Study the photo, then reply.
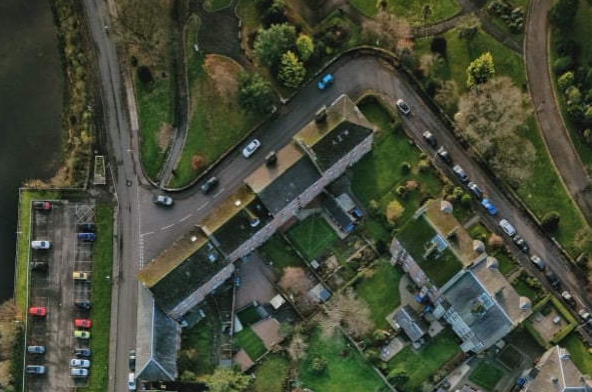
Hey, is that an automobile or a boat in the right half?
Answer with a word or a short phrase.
automobile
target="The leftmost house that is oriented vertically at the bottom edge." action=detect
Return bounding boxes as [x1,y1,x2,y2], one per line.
[135,280,182,380]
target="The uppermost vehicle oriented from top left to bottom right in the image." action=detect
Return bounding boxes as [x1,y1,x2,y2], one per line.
[395,96,411,113]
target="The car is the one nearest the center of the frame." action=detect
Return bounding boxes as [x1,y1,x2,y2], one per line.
[242,139,260,155]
